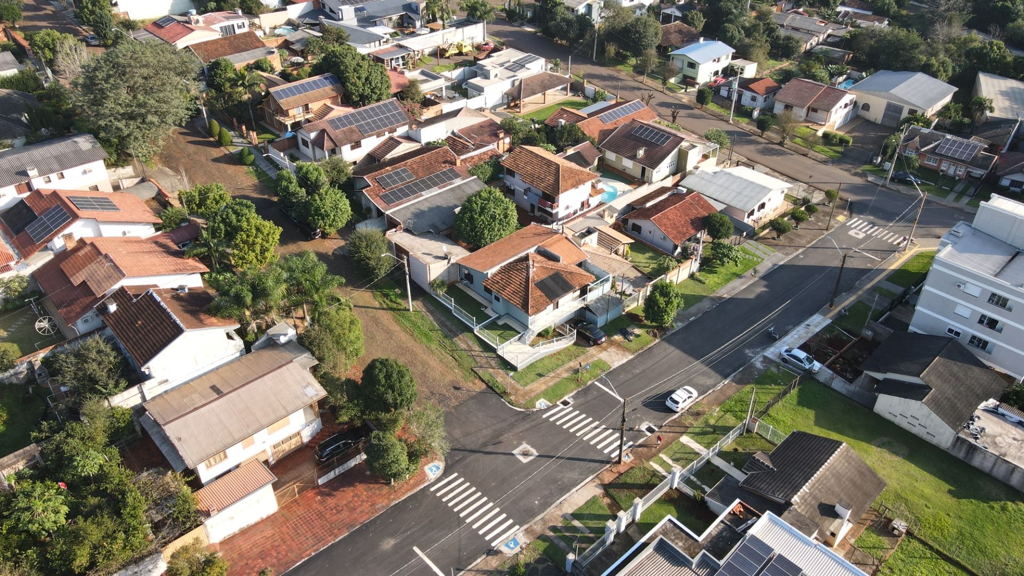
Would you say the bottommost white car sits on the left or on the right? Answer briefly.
right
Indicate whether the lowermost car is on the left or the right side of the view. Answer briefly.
left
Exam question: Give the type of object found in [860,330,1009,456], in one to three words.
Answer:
house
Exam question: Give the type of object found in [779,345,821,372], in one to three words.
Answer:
car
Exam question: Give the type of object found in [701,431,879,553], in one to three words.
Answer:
house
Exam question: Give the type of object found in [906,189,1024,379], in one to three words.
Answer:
building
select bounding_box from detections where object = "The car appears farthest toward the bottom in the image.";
[317,425,369,458]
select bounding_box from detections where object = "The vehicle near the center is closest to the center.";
[573,318,609,341]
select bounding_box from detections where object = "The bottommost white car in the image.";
[663,386,700,413]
